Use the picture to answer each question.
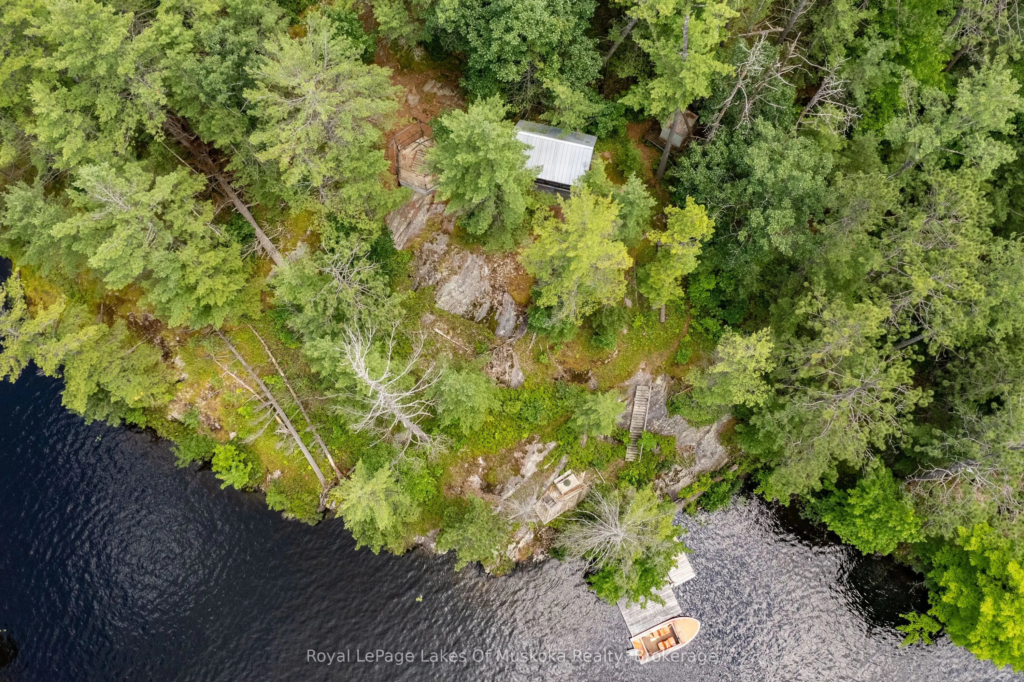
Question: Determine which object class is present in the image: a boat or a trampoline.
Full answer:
This aerial view contains a boat.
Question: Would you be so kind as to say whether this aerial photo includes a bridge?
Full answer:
No, I find no bridge anywhere in the image.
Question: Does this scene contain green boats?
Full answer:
No, there appears to be no green boat in this shot.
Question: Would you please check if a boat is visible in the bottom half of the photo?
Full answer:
Yes, there is a boat in the bottom half of the photo.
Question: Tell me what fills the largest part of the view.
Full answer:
The largest share of the image is taken up by trees.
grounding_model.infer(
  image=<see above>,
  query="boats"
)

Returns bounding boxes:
[628,614,702,666]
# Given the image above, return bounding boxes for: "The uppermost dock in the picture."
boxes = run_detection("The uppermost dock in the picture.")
[665,545,696,587]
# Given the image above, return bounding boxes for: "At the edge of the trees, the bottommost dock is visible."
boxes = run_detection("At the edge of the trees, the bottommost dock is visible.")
[621,583,682,636]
